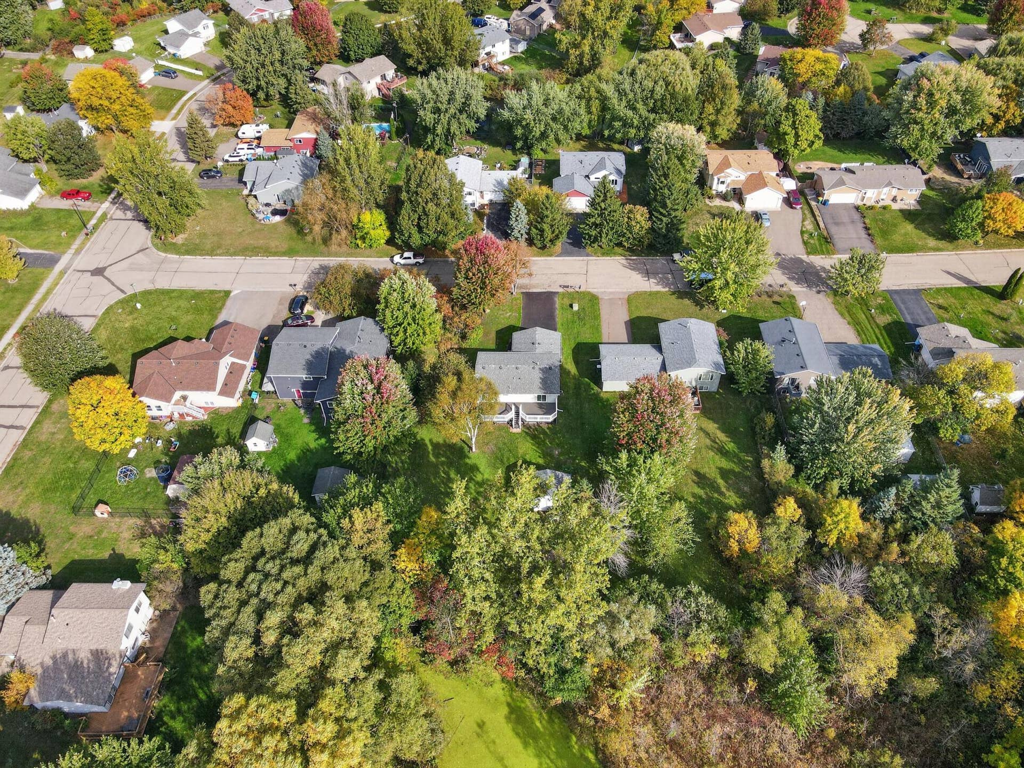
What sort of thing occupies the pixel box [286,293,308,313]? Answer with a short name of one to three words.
car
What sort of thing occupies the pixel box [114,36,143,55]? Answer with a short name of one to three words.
shed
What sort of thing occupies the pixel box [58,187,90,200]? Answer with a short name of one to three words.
vehicle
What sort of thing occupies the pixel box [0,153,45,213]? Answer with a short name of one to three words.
house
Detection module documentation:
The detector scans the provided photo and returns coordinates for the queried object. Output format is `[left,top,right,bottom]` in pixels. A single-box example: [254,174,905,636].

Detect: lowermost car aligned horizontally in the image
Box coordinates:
[282,311,313,326]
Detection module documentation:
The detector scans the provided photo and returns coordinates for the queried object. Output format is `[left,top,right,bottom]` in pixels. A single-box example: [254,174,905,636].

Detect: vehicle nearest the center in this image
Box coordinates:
[392,250,425,264]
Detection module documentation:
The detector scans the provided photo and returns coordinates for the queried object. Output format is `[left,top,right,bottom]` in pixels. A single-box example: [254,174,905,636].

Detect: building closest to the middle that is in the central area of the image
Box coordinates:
[476,323,562,432]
